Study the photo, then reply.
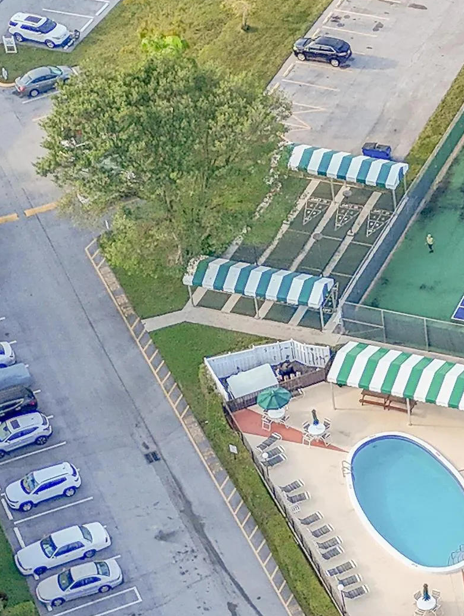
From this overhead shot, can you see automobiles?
Yes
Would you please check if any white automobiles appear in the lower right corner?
No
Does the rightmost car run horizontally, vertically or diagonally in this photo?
horizontally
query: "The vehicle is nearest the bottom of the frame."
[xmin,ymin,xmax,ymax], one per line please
[33,559,122,608]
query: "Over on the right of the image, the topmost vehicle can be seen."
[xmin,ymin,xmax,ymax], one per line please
[291,36,353,66]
